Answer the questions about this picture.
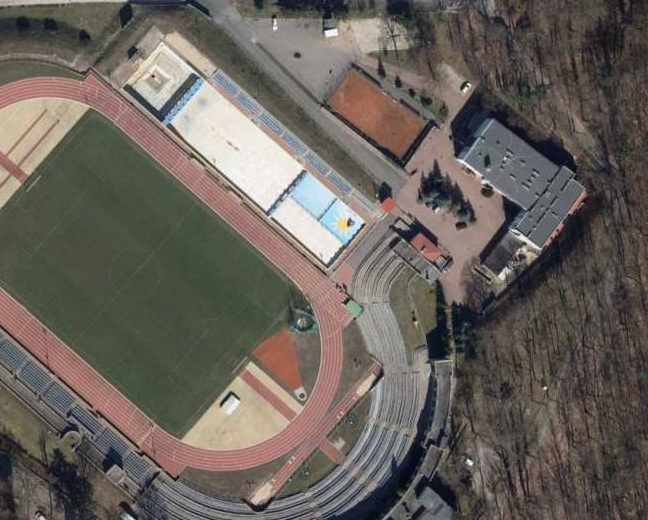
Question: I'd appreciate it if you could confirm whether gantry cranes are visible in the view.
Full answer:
No, the frame has no gantry crane in it.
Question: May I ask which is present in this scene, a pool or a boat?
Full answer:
Looking from above, you can make out a pool.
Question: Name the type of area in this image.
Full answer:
It's a sports ground.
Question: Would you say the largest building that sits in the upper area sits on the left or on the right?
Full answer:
The largest building that sits in the upper area is on the right side of the image.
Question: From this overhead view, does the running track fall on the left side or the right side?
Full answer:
The running track appears in the left half of the scene.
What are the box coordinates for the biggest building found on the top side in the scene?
[459,118,587,256]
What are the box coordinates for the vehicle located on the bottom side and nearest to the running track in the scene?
[120,507,137,520]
